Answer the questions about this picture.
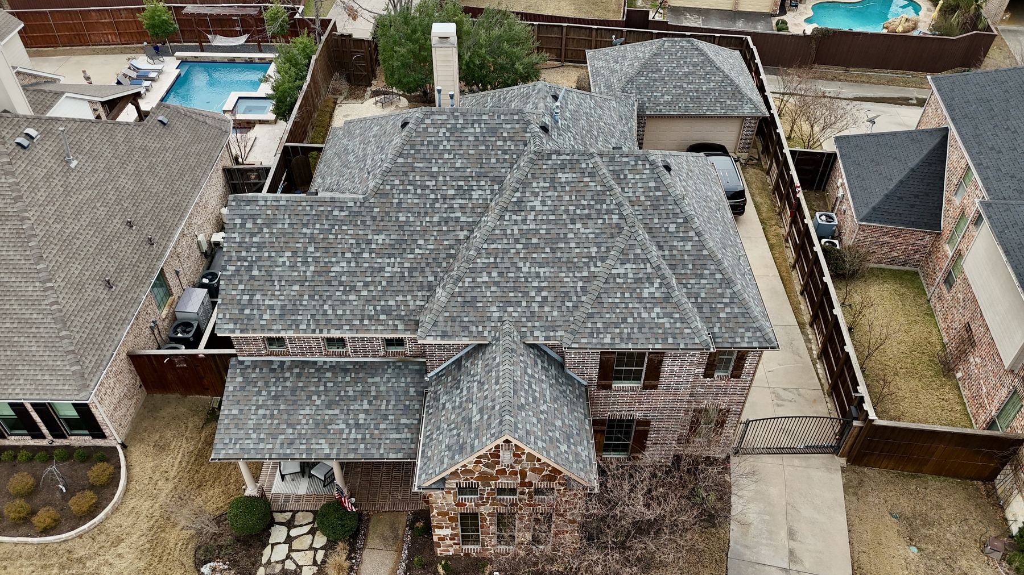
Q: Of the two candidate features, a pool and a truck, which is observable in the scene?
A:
pool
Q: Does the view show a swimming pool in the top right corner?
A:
Yes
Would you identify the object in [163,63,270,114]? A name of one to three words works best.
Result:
swimming pool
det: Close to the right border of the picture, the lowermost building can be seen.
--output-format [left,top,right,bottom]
[831,67,1024,509]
